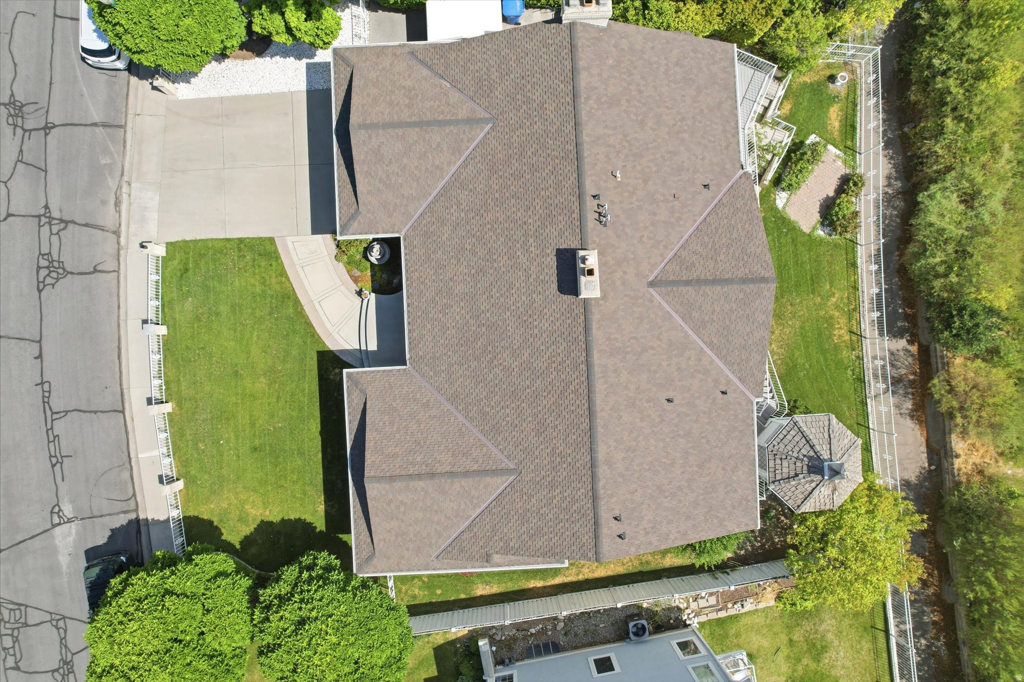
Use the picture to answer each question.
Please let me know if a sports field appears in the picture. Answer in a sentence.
No, the photo shows no sports field.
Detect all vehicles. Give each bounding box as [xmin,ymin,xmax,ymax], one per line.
[83,545,137,649]
[80,0,139,70]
